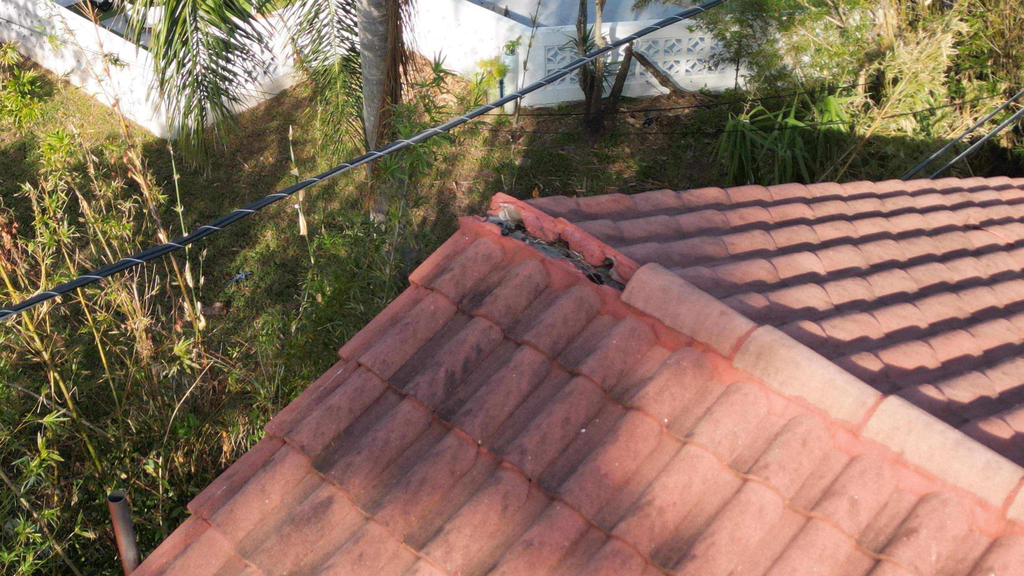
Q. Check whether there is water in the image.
No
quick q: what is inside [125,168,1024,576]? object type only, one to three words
house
